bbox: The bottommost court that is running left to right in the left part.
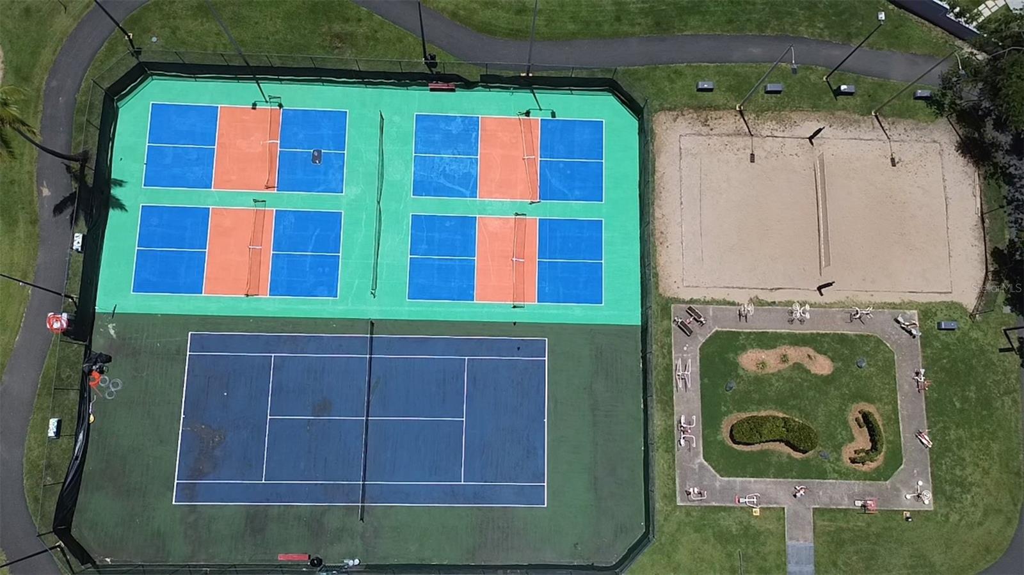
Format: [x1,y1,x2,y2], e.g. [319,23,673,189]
[67,312,644,564]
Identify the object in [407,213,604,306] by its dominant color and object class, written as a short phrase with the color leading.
blue sports court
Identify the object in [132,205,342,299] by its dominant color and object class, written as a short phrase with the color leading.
blue sports court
